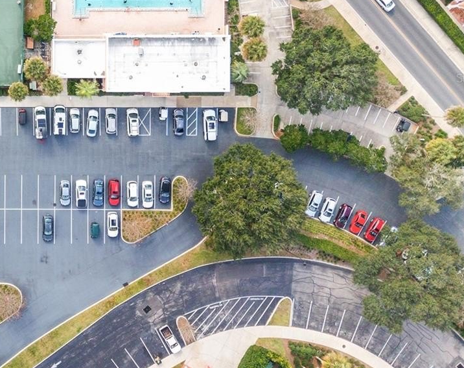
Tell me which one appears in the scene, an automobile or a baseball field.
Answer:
automobile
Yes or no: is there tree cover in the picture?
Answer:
Yes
